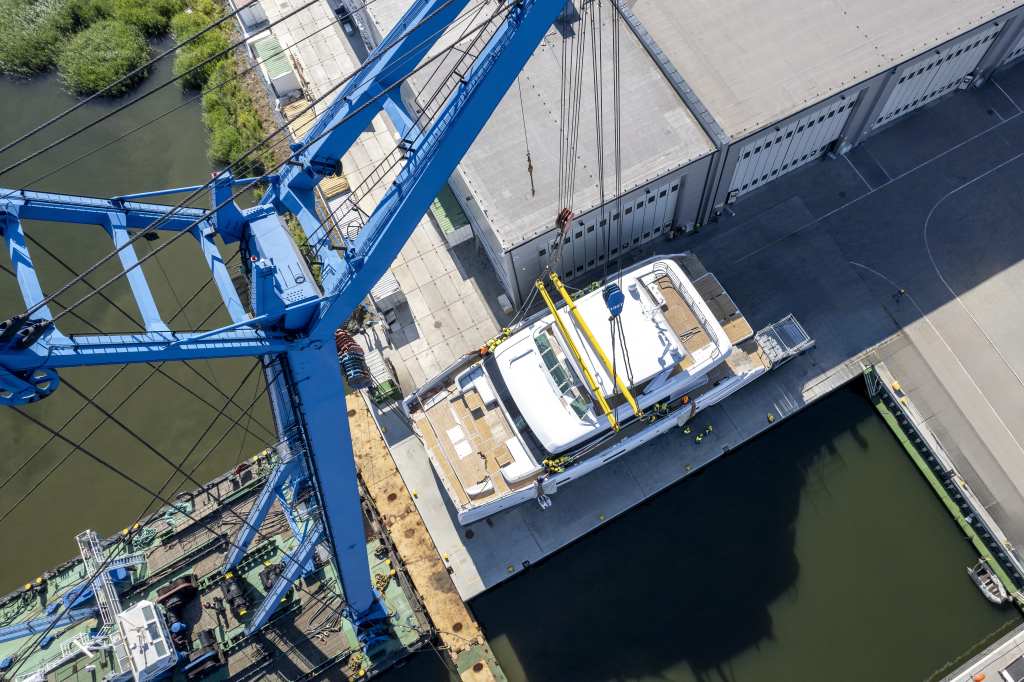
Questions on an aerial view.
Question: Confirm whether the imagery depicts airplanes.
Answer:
No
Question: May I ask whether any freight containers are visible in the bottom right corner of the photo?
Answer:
No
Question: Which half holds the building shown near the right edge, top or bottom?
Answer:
top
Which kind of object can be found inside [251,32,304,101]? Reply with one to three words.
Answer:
shipping container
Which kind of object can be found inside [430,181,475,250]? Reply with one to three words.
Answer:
shipping container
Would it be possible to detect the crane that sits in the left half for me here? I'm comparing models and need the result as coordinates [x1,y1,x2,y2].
[0,0,621,682]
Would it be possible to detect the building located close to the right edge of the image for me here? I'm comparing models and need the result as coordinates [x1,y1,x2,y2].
[623,0,1024,216]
